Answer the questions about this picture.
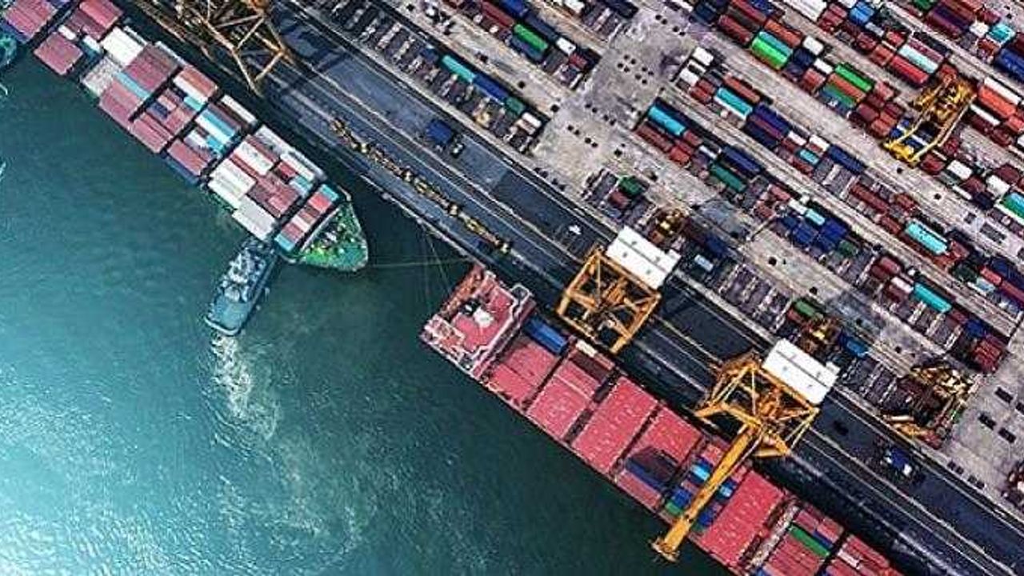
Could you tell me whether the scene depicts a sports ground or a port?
port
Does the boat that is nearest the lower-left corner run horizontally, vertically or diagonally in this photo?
diagonally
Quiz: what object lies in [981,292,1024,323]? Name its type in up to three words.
shipping container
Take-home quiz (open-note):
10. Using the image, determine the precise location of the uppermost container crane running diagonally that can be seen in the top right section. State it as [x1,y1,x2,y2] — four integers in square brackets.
[874,74,972,174]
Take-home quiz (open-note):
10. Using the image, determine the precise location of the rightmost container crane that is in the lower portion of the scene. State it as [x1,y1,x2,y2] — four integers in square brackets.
[881,358,985,445]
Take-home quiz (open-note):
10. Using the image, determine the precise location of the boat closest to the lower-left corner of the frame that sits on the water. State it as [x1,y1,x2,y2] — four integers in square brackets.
[203,249,283,342]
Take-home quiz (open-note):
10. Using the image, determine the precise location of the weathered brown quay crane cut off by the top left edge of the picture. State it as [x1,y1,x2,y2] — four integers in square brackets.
[134,0,243,56]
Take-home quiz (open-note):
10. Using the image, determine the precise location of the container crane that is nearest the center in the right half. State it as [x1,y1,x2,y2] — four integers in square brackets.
[554,205,684,357]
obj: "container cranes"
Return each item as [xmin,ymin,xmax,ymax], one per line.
[649,311,840,567]
[874,74,972,174]
[134,0,243,56]
[881,358,985,445]
[554,205,684,357]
